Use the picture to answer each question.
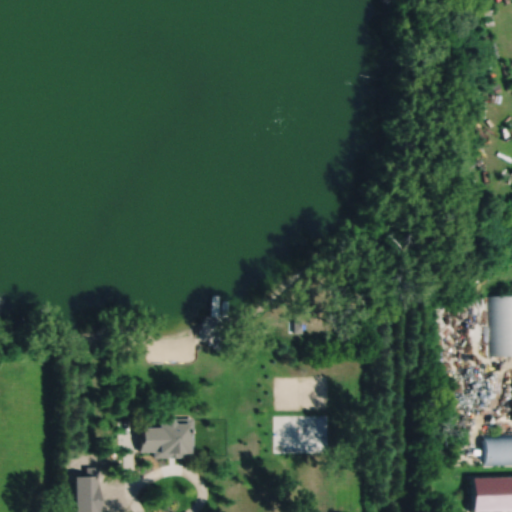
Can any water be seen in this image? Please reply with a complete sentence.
Yes, water shows up in the scene.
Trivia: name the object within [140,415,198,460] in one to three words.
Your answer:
house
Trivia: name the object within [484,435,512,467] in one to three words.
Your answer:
building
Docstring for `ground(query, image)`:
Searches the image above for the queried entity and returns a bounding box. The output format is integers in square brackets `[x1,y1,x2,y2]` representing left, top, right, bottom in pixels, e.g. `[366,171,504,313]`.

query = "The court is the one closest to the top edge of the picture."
[273,377,328,412]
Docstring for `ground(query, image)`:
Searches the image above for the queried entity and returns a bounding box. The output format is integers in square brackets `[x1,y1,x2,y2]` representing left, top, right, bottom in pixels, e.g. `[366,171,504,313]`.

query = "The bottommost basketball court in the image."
[272,415,327,455]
